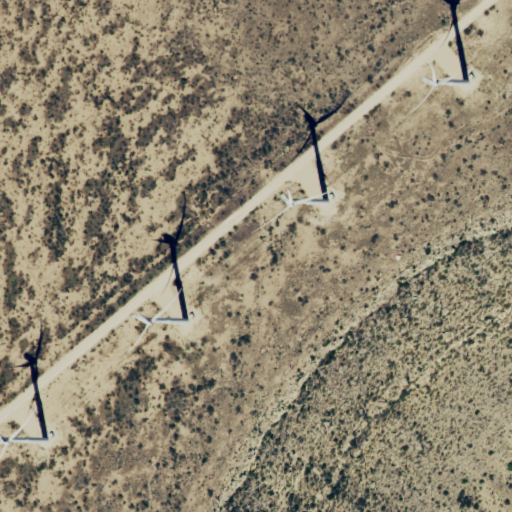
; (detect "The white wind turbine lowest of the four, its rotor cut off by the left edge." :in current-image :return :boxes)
[0,415,51,465]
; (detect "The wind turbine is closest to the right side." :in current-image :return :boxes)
[408,54,471,122]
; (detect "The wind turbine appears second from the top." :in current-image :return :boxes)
[256,188,332,230]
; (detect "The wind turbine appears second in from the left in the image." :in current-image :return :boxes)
[131,294,192,355]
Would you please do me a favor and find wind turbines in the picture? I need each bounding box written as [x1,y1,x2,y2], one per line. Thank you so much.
[131,294,192,355]
[0,415,51,465]
[408,54,471,122]
[256,188,332,230]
